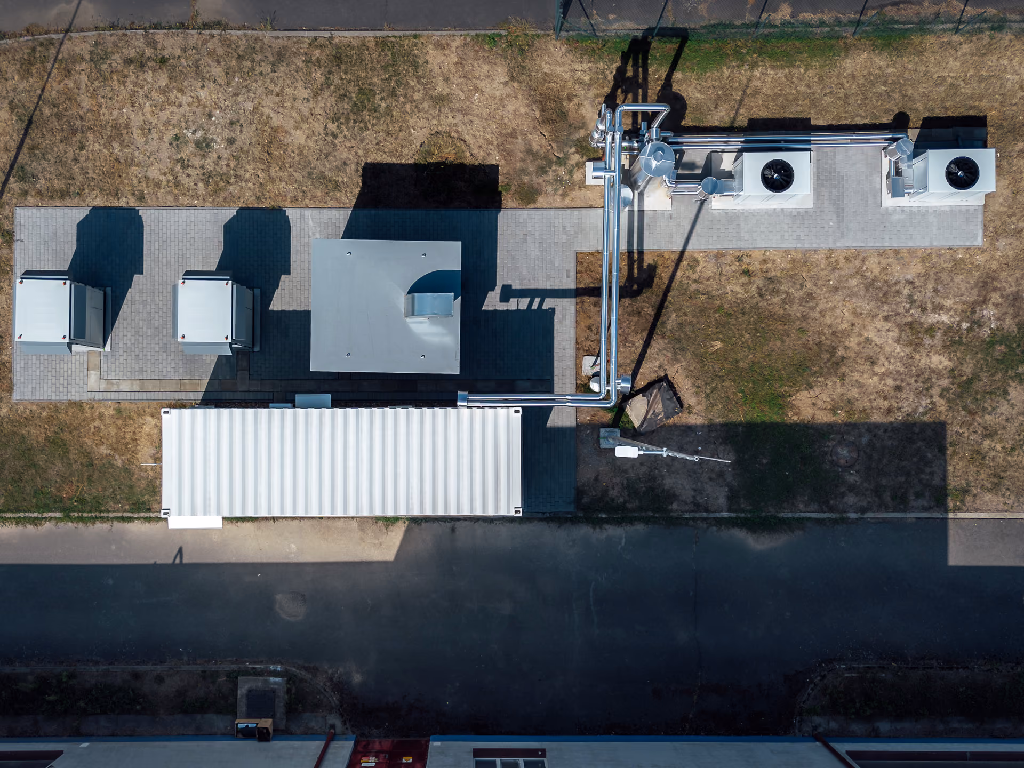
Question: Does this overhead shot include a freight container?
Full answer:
Yes, the picture does show a freight container.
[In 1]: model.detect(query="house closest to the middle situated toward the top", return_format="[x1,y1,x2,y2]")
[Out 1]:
[310,239,461,373]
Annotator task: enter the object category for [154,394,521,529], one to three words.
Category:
shipping container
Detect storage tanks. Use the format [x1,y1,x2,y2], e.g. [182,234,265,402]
[632,141,676,189]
